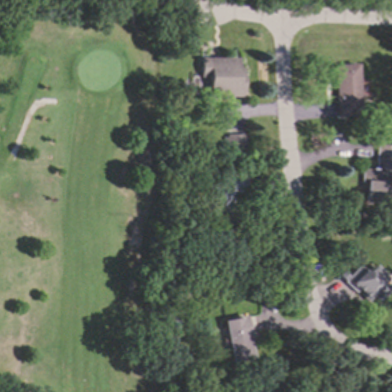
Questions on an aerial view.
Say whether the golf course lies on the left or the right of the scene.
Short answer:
left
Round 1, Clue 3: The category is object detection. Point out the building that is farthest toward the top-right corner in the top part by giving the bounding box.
[340,63,366,100]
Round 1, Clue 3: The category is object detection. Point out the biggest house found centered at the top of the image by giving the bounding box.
[204,56,249,96]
